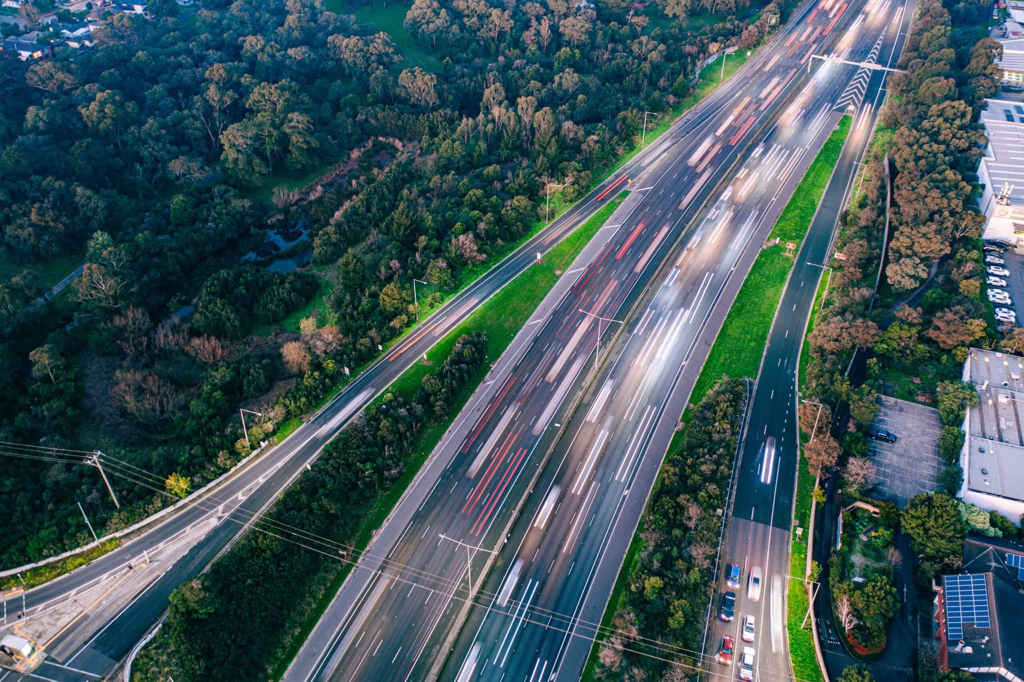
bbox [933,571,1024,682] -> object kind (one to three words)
building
